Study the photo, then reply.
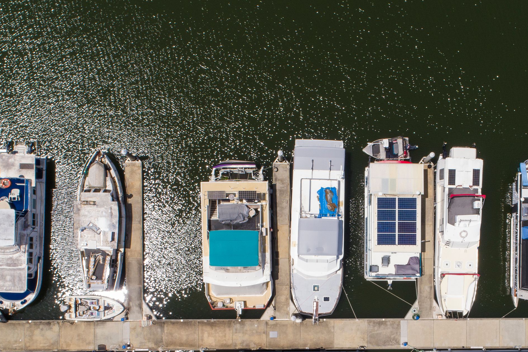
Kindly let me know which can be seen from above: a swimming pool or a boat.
boat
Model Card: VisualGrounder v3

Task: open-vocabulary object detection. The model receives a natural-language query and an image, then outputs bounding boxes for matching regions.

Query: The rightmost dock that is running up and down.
[403,158,446,318]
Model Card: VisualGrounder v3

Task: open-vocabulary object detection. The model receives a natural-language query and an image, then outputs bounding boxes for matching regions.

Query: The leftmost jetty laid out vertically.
[113,155,157,320]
